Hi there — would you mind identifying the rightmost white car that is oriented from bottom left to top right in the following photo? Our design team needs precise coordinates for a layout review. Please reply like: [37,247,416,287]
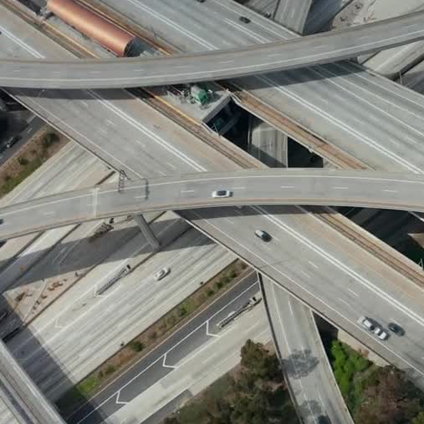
[154,267,170,281]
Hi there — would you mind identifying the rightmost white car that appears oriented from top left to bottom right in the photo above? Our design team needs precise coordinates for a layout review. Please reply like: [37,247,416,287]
[372,326,391,341]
